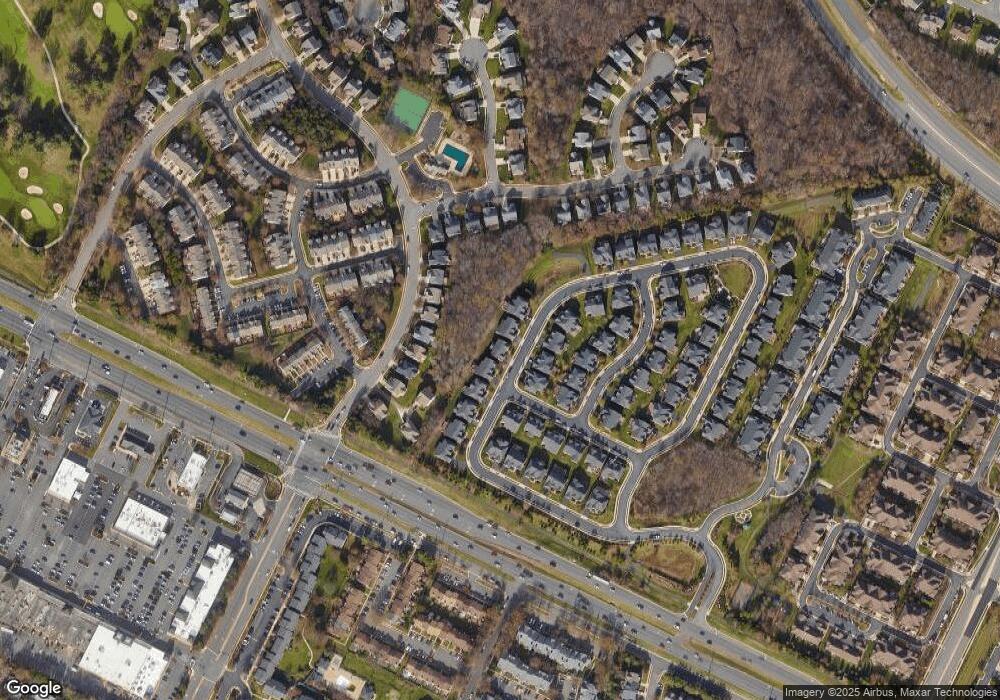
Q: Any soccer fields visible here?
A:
No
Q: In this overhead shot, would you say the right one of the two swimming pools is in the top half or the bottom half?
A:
top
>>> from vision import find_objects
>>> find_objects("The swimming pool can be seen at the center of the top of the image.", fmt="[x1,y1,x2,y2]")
[436,139,475,178]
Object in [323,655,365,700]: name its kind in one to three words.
swimming pool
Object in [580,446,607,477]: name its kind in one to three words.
house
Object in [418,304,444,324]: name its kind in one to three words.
house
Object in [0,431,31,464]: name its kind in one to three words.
building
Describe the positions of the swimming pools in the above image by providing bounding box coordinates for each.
[436,139,475,178]
[323,655,365,700]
